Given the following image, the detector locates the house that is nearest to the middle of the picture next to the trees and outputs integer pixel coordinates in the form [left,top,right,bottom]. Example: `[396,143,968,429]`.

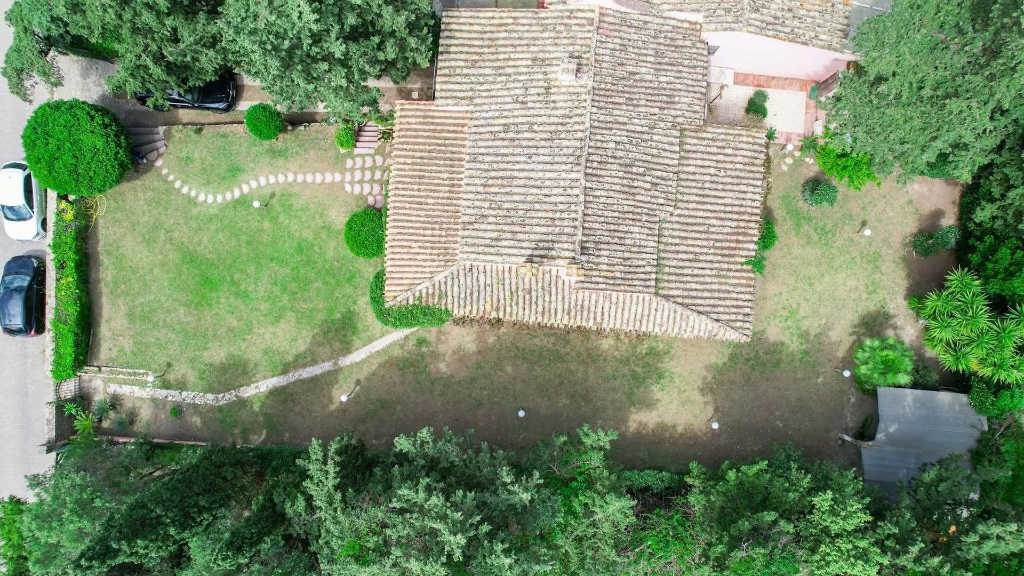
[383,5,770,345]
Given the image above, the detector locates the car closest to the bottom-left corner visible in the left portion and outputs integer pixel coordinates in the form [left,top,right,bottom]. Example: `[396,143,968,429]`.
[0,255,45,337]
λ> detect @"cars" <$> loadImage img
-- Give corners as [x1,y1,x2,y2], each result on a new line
[135,73,239,116]
[0,161,48,241]
[0,255,45,337]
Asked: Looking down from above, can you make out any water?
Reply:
No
